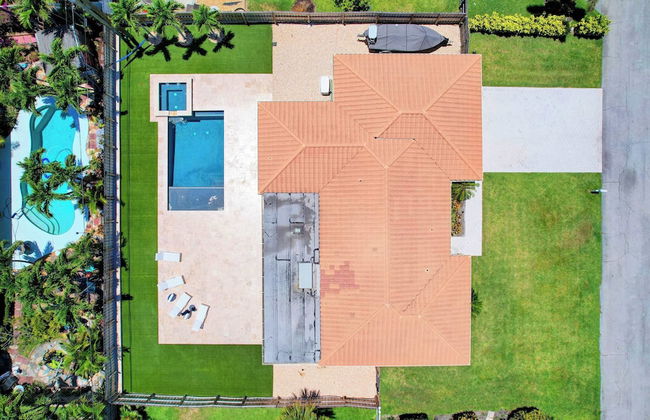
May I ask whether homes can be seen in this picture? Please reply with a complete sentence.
Yes, I can see a home in this picture.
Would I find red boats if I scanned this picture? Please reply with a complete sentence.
No, no red boat is visible in the view.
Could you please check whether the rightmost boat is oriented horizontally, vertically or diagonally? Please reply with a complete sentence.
Seen from above, the rightmost boat lies horizontally.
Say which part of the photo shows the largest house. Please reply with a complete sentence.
The largest house sits in the center section of the image.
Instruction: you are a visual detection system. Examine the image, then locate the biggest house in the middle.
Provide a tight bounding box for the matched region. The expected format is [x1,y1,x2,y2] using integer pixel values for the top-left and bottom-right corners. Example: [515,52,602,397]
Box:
[256,53,484,367]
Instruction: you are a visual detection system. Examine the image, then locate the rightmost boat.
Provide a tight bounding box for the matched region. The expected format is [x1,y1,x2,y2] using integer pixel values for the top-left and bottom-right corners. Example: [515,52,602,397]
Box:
[356,26,449,53]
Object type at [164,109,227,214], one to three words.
swimming pool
